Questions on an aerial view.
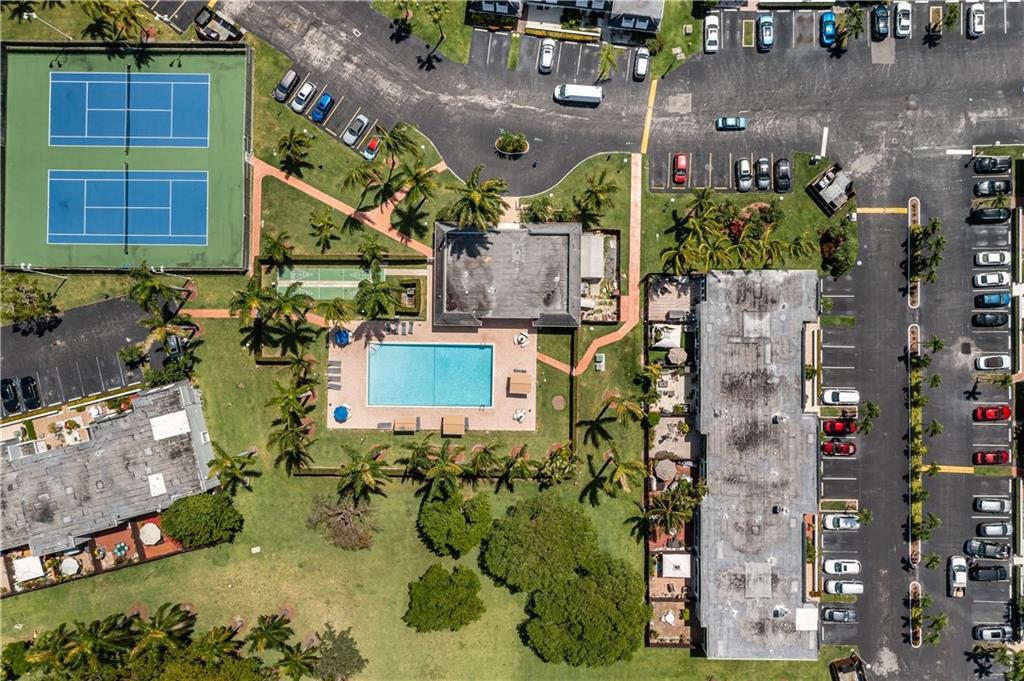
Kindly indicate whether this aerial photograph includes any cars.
Yes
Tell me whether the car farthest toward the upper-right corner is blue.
No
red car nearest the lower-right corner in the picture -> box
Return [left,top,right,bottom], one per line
[971,450,1009,466]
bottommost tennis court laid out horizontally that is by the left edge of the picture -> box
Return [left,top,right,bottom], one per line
[5,158,250,268]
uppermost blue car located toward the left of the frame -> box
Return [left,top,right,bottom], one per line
[310,91,335,124]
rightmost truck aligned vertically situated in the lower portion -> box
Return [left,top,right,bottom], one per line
[947,554,968,599]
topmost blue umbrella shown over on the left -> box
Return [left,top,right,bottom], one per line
[333,328,351,346]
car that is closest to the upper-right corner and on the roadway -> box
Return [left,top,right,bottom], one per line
[966,2,987,40]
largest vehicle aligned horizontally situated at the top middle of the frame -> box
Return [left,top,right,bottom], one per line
[553,83,604,104]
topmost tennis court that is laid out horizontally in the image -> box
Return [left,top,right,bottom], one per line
[6,48,242,158]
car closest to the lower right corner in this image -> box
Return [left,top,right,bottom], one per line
[972,624,1011,643]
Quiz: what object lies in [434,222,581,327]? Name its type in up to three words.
building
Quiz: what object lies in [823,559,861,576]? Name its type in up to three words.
car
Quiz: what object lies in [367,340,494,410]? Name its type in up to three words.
swimming pool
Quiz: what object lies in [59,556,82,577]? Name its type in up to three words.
umbrella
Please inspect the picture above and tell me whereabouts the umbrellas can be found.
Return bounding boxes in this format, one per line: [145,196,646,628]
[668,347,688,366]
[59,556,82,577]
[655,459,677,481]
[333,405,349,422]
[333,328,351,346]
[138,522,162,546]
